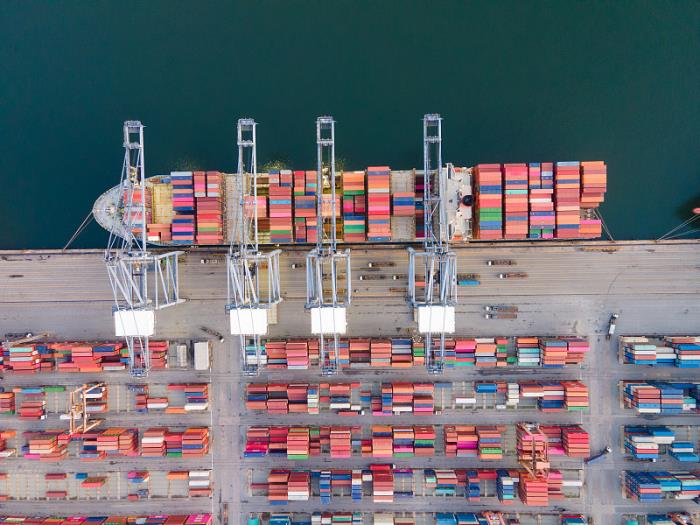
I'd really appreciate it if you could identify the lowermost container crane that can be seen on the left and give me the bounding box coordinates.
[68,381,107,433]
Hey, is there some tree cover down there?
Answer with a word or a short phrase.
No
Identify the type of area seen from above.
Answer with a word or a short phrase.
port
